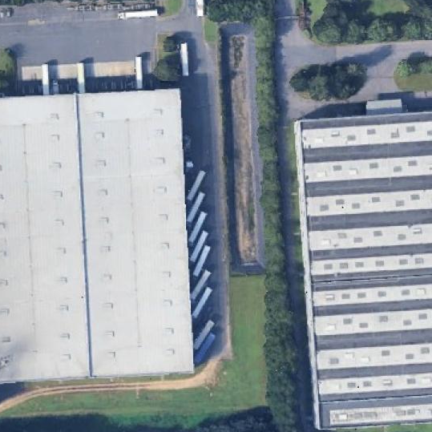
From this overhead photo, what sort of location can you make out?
industrial area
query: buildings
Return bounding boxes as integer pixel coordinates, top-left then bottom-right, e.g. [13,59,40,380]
[0,88,194,384]
[291,99,432,429]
